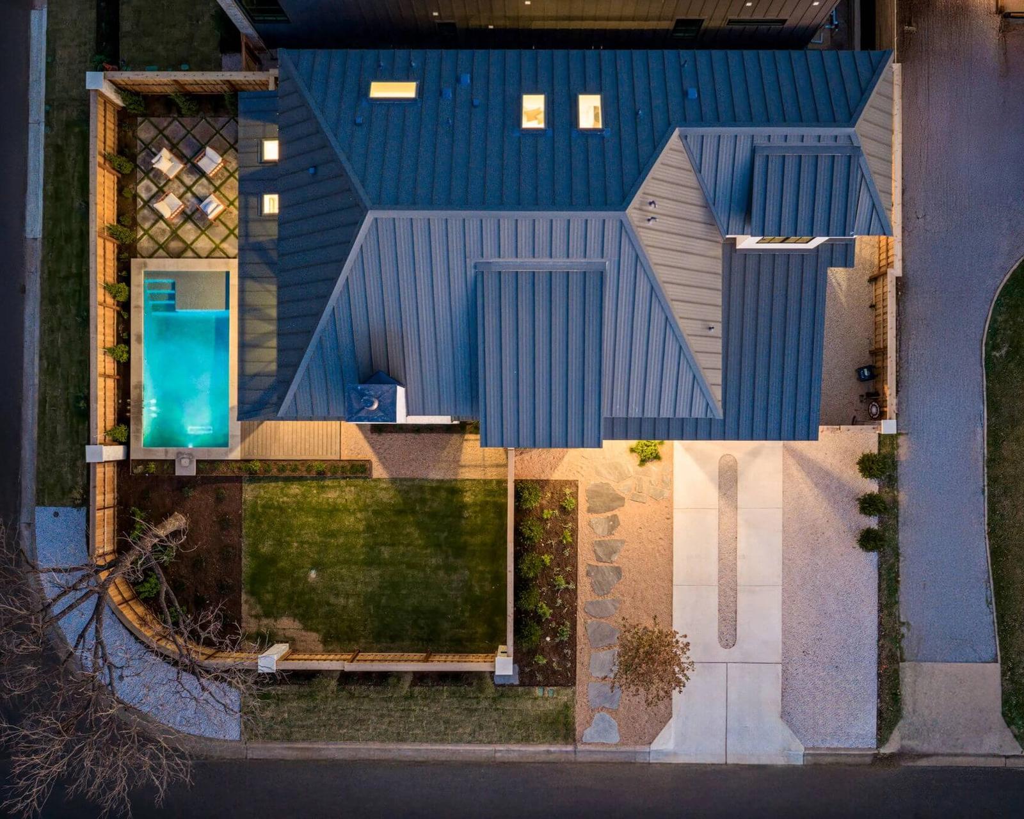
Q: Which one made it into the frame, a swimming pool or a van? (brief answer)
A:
swimming pool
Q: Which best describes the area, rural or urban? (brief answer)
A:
urban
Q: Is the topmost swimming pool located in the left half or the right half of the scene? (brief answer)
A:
left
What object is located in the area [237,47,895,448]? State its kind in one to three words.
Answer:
house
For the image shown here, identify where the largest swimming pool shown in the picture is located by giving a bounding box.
[131,258,239,459]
